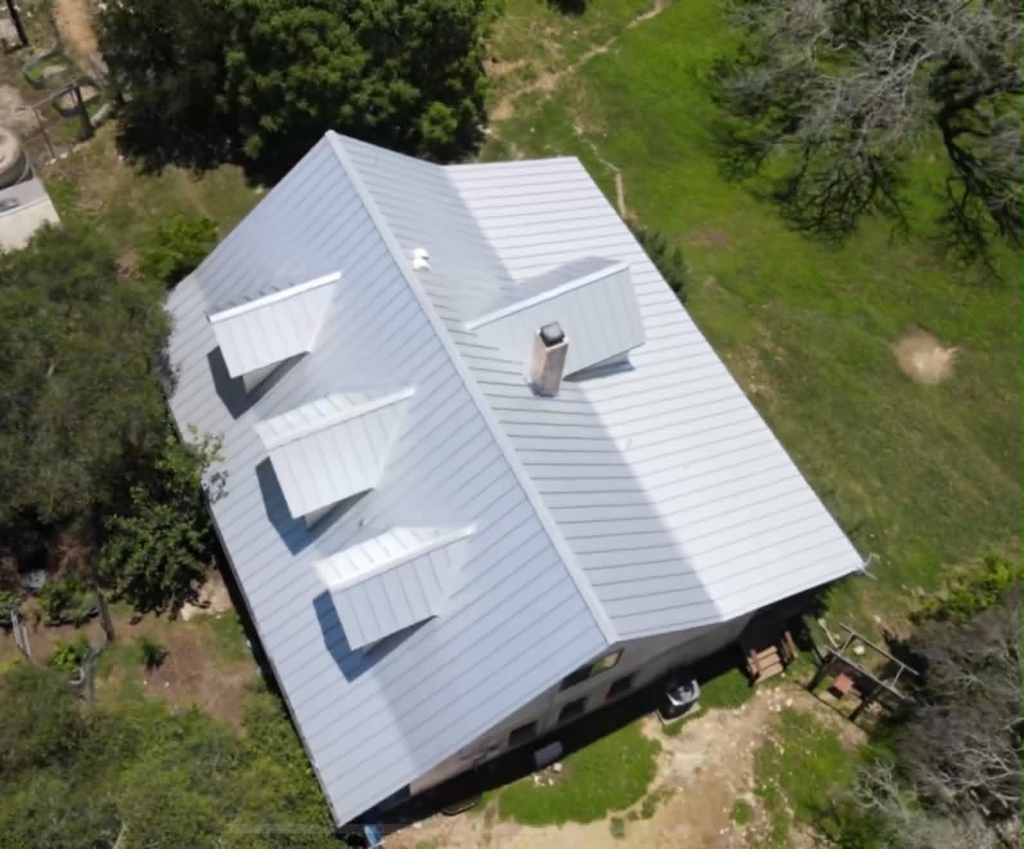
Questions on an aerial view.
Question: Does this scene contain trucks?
No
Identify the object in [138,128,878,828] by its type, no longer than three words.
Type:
house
